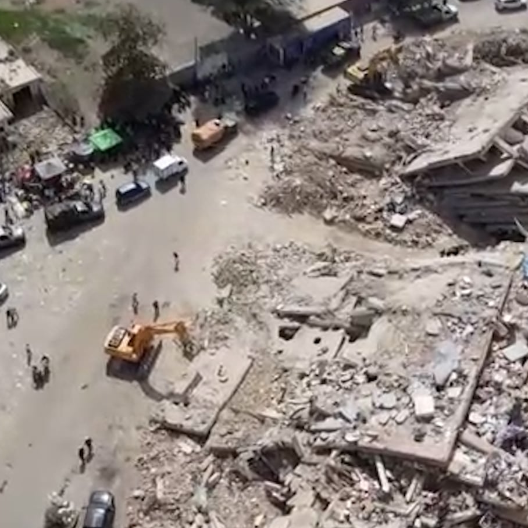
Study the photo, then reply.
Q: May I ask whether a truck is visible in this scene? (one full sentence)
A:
Yes, there's a truck down there.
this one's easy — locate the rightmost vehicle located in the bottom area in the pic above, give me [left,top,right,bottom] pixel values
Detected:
[101,336,192,379]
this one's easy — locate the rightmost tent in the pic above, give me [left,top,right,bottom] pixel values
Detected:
[88,129,124,166]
